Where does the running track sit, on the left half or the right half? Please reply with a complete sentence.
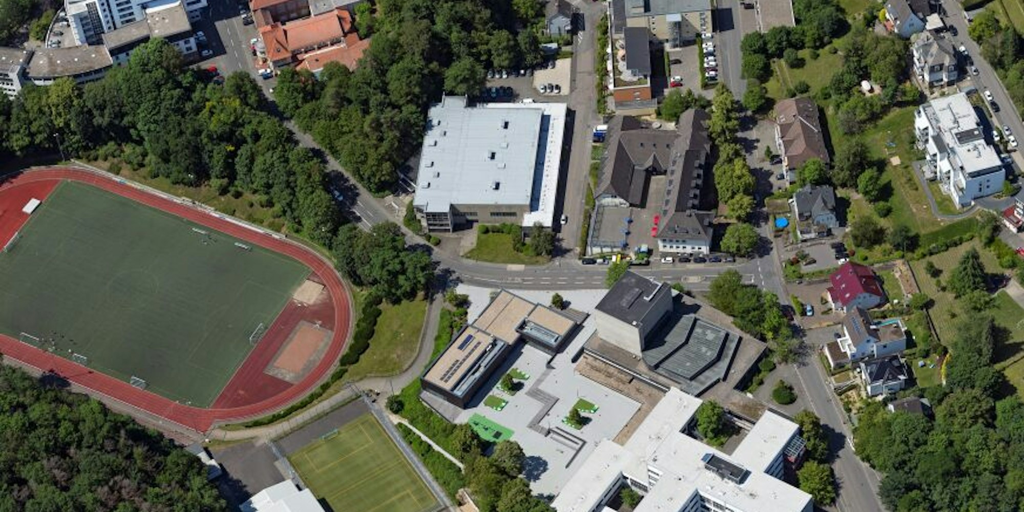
The running track sits on the left side.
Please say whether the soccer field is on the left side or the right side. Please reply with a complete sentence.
The soccer field is on the left side of the image.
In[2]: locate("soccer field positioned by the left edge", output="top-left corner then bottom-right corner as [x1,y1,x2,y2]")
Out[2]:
[0,176,313,408]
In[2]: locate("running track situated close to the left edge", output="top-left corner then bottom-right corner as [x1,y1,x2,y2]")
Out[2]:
[0,159,360,436]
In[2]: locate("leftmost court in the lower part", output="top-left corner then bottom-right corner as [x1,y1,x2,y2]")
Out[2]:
[263,320,334,386]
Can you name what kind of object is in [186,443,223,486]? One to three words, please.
shed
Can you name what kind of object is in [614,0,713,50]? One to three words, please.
building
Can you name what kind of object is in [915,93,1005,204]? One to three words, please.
house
